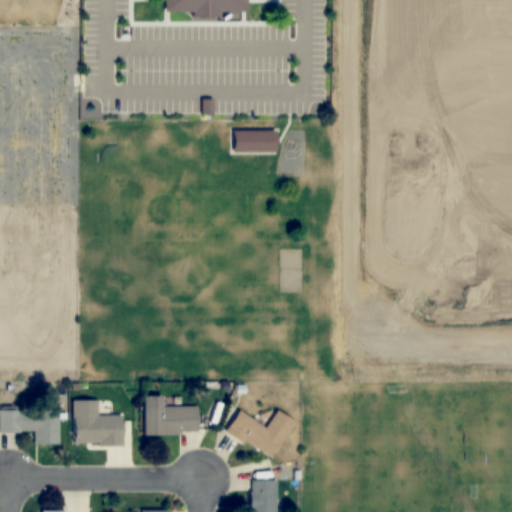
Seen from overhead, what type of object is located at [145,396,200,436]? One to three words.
house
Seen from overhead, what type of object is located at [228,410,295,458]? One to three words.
house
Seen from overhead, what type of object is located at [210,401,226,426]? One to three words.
camper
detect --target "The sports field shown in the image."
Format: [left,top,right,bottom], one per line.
[302,382,512,512]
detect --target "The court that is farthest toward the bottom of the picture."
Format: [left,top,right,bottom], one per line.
[280,271,302,292]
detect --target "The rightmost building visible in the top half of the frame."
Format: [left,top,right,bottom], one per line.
[230,128,280,156]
